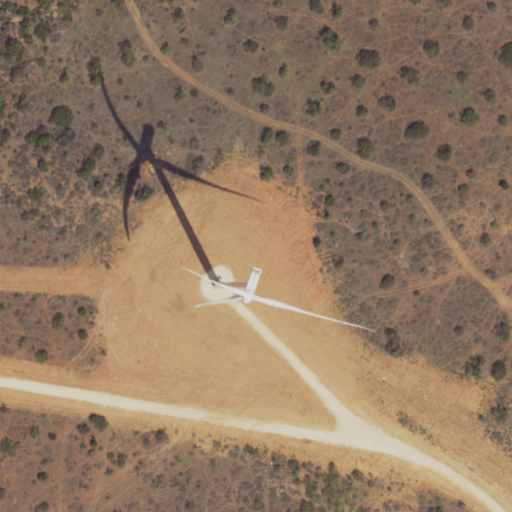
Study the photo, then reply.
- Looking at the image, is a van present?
No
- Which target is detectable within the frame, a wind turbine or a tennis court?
wind turbine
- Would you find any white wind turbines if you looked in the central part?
Yes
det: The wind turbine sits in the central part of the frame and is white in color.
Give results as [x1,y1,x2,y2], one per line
[193,260,376,334]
